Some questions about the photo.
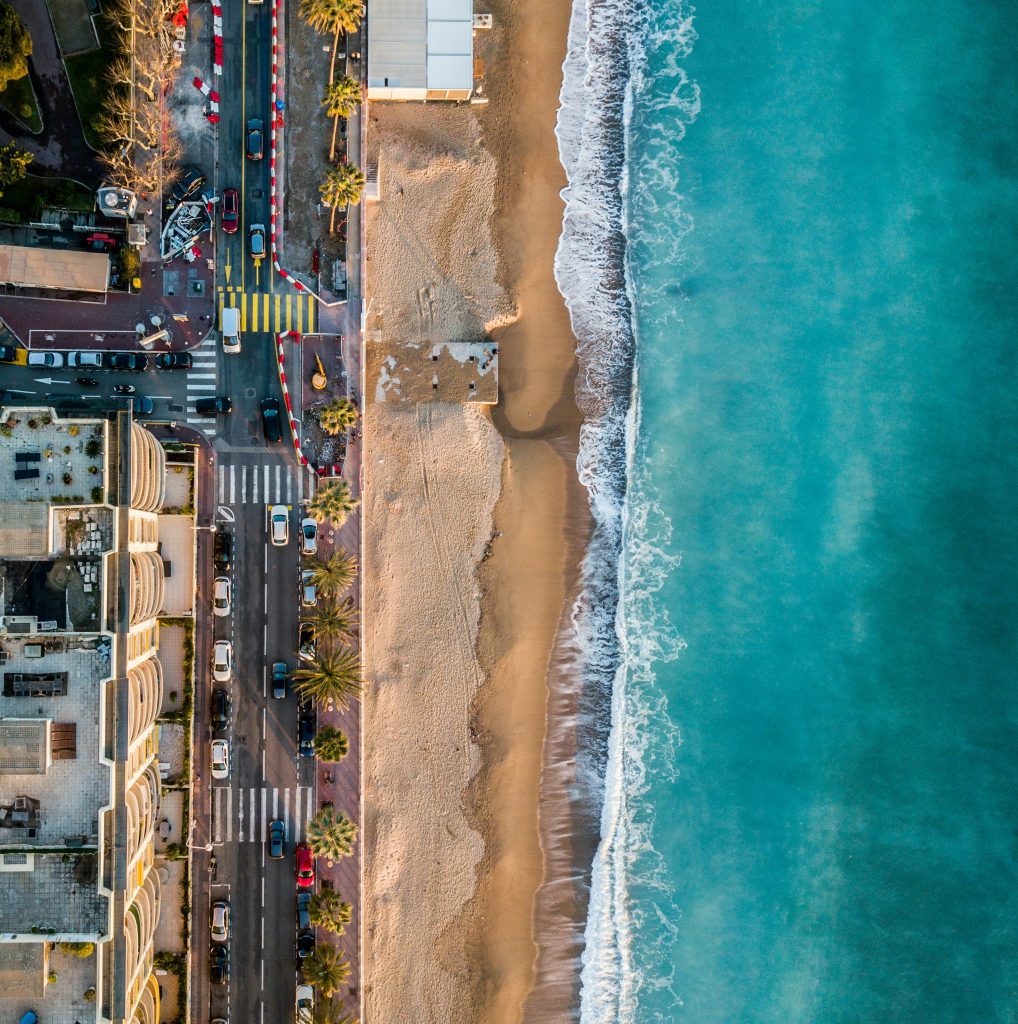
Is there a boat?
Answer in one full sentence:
No, there is no boat in the image.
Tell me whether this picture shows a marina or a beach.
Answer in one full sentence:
It's a beach.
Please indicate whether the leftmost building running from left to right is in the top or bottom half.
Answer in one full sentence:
The leftmost building running from left to right sits in the top half of the picture.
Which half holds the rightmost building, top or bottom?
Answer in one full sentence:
You can find the rightmost building in the top half.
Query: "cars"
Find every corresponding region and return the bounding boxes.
[111,352,150,371]
[211,690,230,730]
[156,351,194,370]
[298,622,317,659]
[0,389,27,406]
[195,396,233,414]
[28,351,66,370]
[300,519,319,554]
[269,661,288,699]
[211,738,230,778]
[295,983,314,1024]
[249,0,265,5]
[0,345,21,364]
[123,396,159,415]
[298,715,316,756]
[300,570,318,605]
[249,226,267,258]
[209,943,228,983]
[67,350,105,370]
[213,639,231,680]
[269,505,289,546]
[210,899,229,940]
[220,192,240,232]
[213,576,232,617]
[295,891,314,928]
[246,123,265,160]
[295,842,314,885]
[298,928,314,961]
[213,532,232,570]
[268,819,285,857]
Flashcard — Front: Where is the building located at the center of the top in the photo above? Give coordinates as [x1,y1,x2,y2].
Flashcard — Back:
[368,0,473,105]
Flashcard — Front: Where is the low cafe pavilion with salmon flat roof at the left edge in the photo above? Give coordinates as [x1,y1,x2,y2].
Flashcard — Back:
[0,248,113,296]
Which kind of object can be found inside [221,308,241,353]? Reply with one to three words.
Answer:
vehicle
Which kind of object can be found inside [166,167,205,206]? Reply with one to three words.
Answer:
work vehicle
